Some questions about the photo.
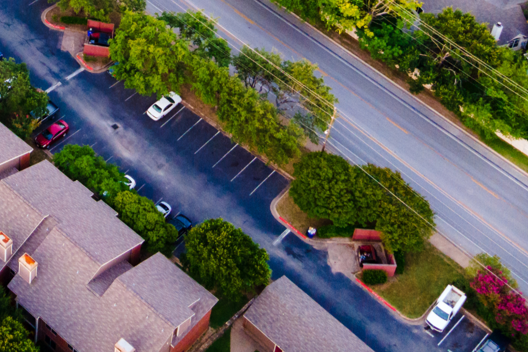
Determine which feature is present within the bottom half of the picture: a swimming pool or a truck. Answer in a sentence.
You can see a truck within the bottom half of the picture.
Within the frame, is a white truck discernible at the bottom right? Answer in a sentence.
Yes, a white truck is visible at the bottom right.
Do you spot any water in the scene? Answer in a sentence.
No, the picture contains no water.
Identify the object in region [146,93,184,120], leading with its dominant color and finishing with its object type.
white car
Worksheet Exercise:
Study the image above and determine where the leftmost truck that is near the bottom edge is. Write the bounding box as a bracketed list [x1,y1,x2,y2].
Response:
[429,279,466,335]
